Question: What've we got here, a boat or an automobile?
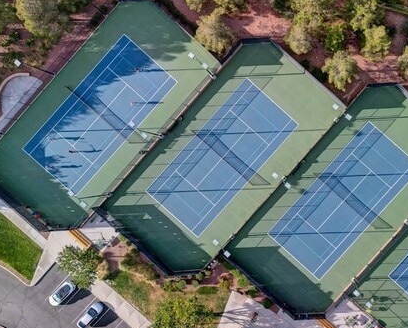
automobile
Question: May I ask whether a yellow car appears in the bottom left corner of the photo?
No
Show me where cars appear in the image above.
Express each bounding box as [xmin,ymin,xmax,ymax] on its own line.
[77,300,105,328]
[49,279,77,306]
